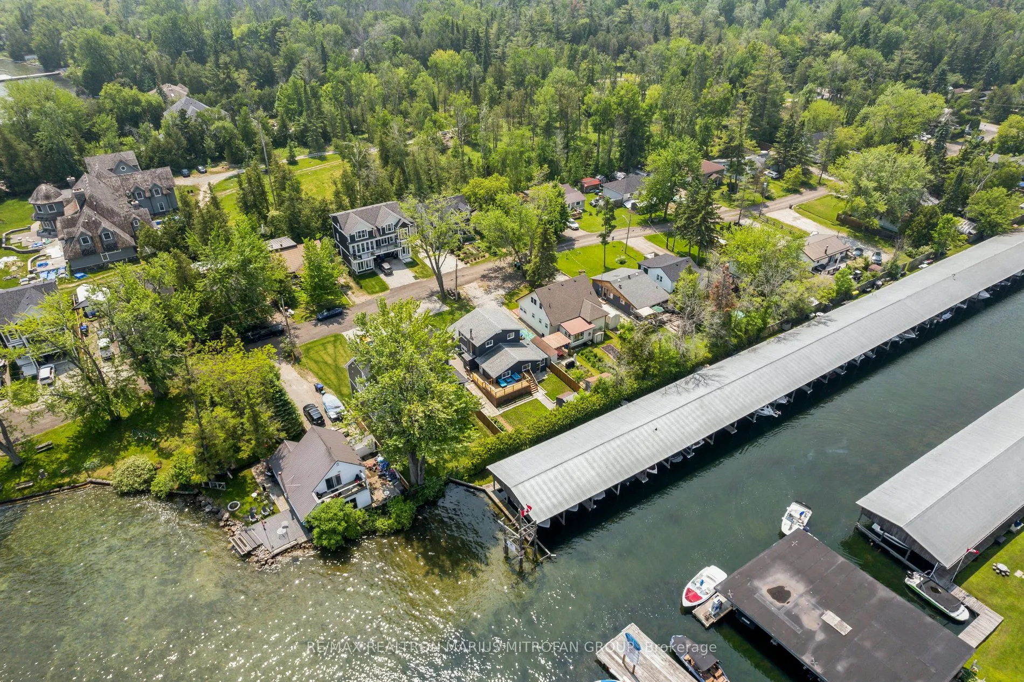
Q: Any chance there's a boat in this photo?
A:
Yes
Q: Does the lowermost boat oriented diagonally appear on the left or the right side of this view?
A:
right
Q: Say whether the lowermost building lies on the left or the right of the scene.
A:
right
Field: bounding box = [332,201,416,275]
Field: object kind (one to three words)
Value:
house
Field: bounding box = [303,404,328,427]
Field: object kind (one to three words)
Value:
car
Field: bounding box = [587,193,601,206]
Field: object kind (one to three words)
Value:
vehicle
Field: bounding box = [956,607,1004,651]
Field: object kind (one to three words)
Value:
pier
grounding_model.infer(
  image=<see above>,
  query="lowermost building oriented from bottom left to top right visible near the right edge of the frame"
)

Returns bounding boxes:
[843,387,1024,585]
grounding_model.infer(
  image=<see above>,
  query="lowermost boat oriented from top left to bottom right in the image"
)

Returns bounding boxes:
[674,636,726,682]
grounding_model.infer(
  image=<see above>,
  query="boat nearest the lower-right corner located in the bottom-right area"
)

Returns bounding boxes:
[902,569,969,626]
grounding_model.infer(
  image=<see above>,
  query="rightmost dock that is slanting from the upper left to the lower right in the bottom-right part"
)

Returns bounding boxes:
[934,579,986,616]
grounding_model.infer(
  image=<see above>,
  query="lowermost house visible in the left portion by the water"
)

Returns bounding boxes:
[268,424,372,523]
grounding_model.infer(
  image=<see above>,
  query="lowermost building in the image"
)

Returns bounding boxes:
[711,527,972,682]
